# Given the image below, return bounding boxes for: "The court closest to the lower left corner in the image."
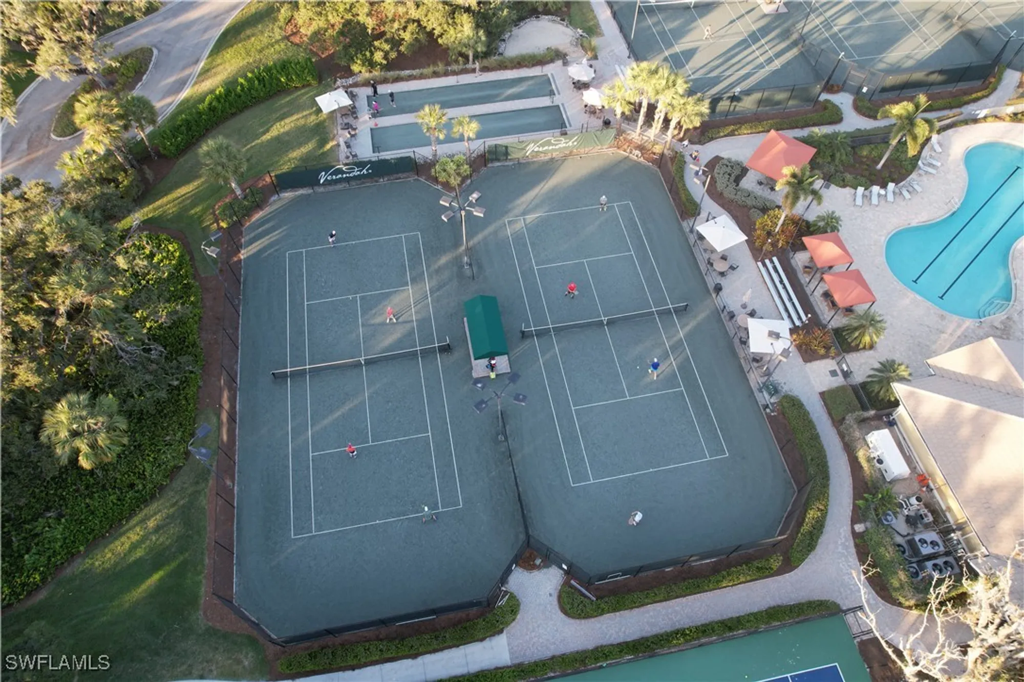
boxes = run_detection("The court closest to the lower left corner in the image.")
[233,179,524,640]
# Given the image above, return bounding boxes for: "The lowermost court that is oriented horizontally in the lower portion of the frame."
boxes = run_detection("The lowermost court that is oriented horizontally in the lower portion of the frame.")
[571,613,869,682]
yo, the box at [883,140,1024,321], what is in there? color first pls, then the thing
blue swimming pool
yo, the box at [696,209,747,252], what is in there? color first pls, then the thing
white umbrella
